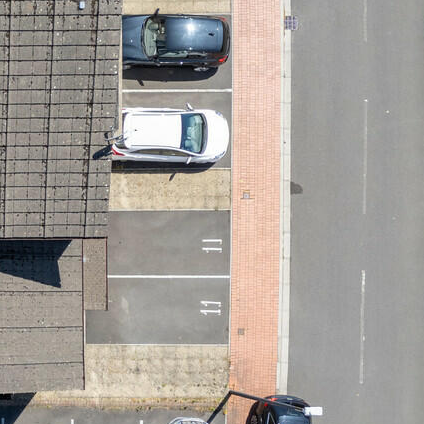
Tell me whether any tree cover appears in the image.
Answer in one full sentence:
No, there's no tree cover in this view.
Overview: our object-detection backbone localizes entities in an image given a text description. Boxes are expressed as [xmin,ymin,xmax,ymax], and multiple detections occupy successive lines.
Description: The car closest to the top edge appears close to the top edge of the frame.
[121,5,231,69]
